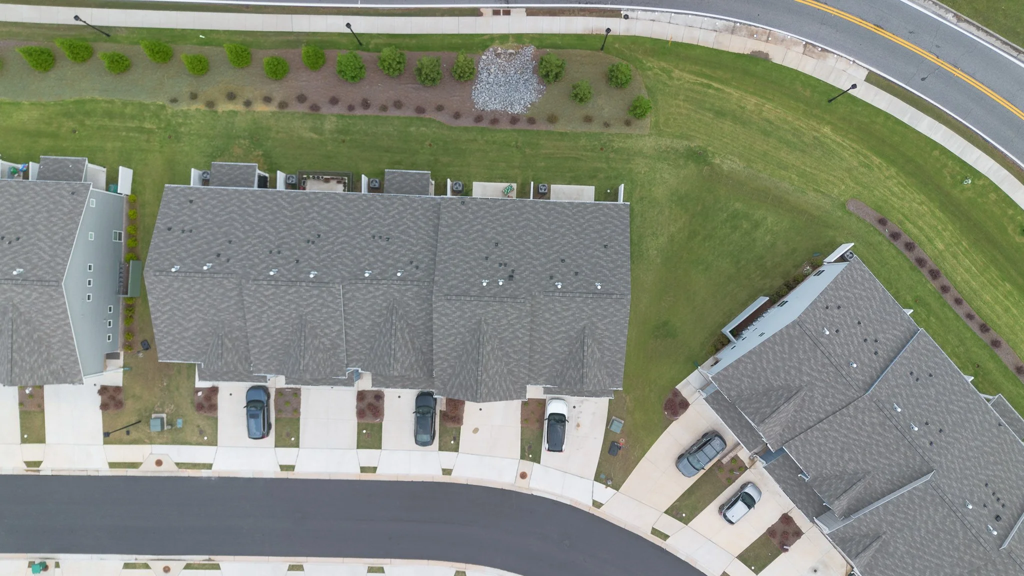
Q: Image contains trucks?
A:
No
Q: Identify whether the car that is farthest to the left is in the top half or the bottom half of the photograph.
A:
bottom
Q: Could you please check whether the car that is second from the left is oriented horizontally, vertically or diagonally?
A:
vertically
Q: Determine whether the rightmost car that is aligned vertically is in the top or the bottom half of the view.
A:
bottom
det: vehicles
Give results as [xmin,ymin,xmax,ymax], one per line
[411,393,438,448]
[543,400,570,454]
[677,432,728,479]
[720,485,763,527]
[240,387,271,442]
